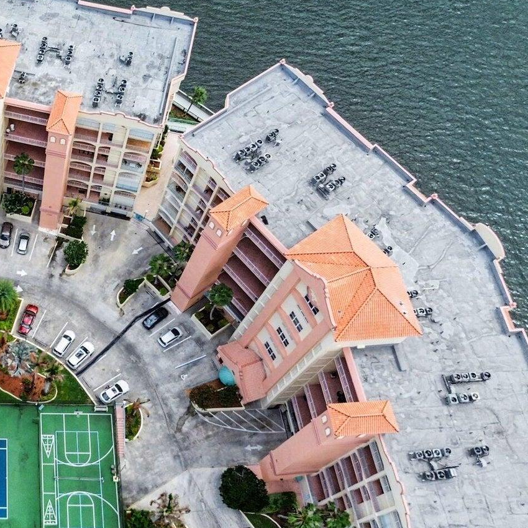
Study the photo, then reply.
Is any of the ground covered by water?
Yes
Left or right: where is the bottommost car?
left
